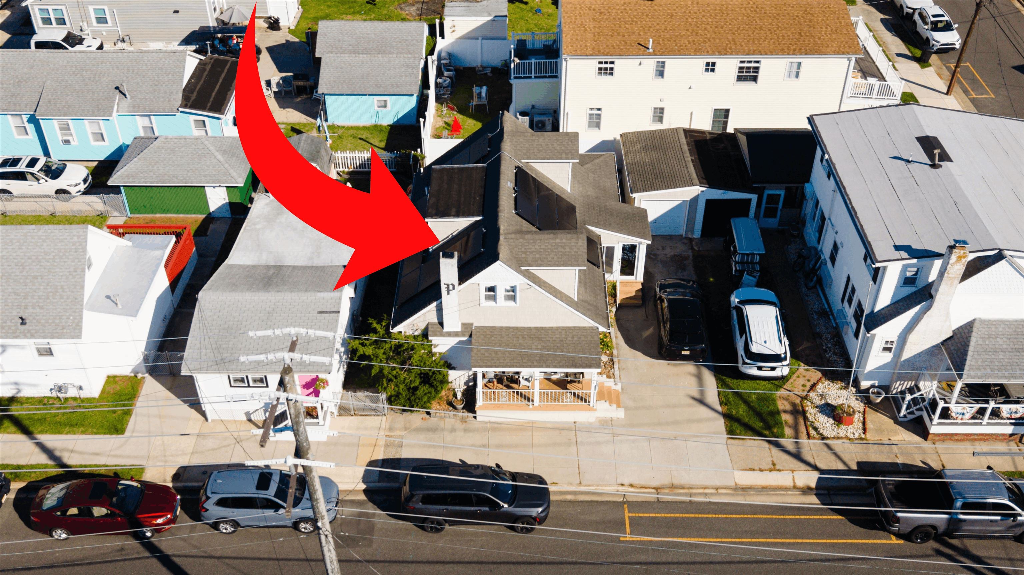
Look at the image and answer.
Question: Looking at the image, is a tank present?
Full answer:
No, no tank can be seen from above.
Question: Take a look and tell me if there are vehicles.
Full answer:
Yes, there's a vehicle here.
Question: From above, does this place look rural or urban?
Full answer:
This place is urban.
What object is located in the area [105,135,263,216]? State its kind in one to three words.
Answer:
shed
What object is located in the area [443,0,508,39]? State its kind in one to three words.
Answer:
building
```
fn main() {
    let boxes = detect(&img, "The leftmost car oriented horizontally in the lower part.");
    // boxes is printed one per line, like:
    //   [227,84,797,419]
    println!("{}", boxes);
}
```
[31,474,185,540]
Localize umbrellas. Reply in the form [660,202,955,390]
[217,5,257,24]
[324,105,334,145]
